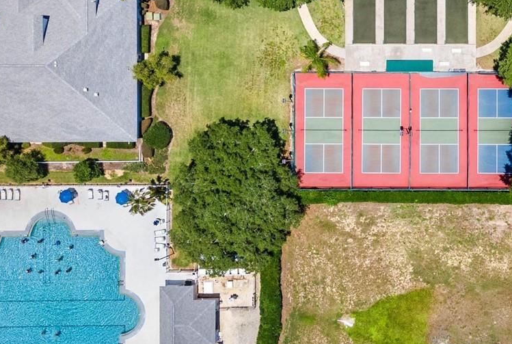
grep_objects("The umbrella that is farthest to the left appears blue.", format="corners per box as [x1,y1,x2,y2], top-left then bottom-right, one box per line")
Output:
[62,189,76,202]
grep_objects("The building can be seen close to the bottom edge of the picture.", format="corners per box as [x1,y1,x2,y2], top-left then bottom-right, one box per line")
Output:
[159,284,220,344]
